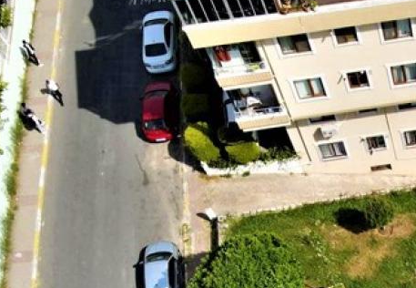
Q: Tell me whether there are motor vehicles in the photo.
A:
Yes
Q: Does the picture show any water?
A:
No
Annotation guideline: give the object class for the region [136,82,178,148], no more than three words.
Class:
car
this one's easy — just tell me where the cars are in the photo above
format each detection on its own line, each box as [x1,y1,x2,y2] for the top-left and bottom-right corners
[139,240,183,288]
[139,13,180,79]
[136,82,178,148]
